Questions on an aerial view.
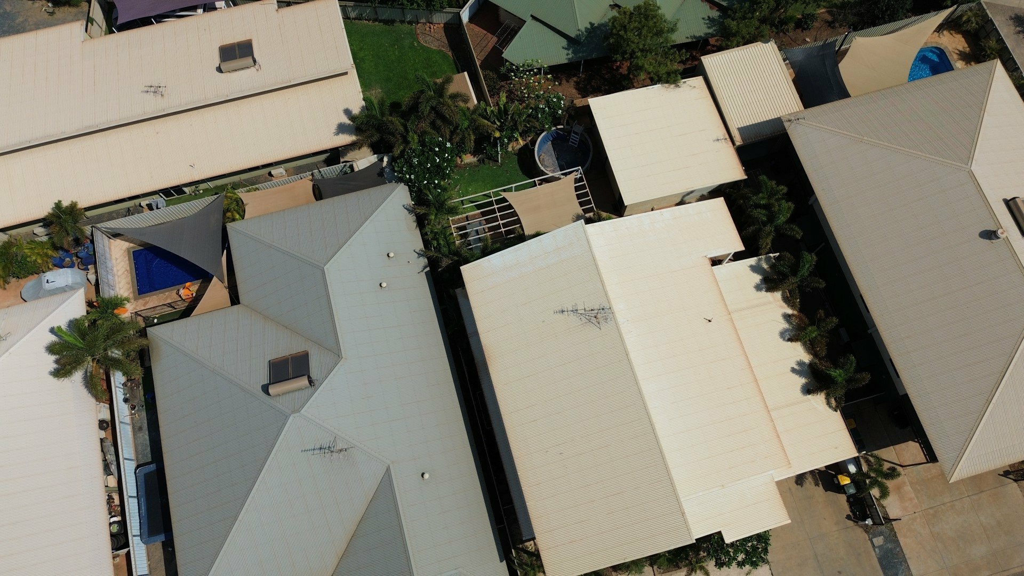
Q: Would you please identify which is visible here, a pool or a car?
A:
pool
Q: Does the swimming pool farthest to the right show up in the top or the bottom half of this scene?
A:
top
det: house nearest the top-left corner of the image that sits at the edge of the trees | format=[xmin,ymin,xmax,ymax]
[0,0,369,238]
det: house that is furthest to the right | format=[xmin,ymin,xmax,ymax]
[772,59,1024,482]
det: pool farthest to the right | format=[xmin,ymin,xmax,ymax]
[908,46,954,82]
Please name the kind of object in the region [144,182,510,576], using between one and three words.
house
